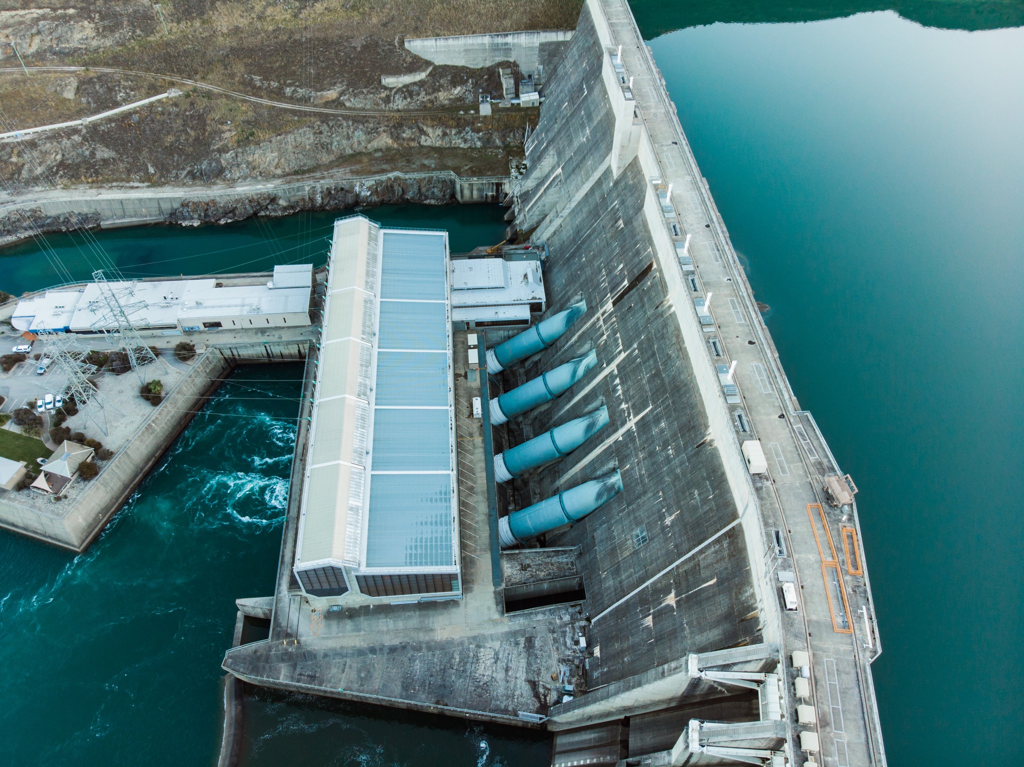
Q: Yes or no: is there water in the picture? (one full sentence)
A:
Yes, water shows up in the scene.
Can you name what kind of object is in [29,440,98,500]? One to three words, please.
building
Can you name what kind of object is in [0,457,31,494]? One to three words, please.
building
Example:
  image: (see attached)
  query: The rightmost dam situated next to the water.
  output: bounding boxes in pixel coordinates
[504,0,888,767]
